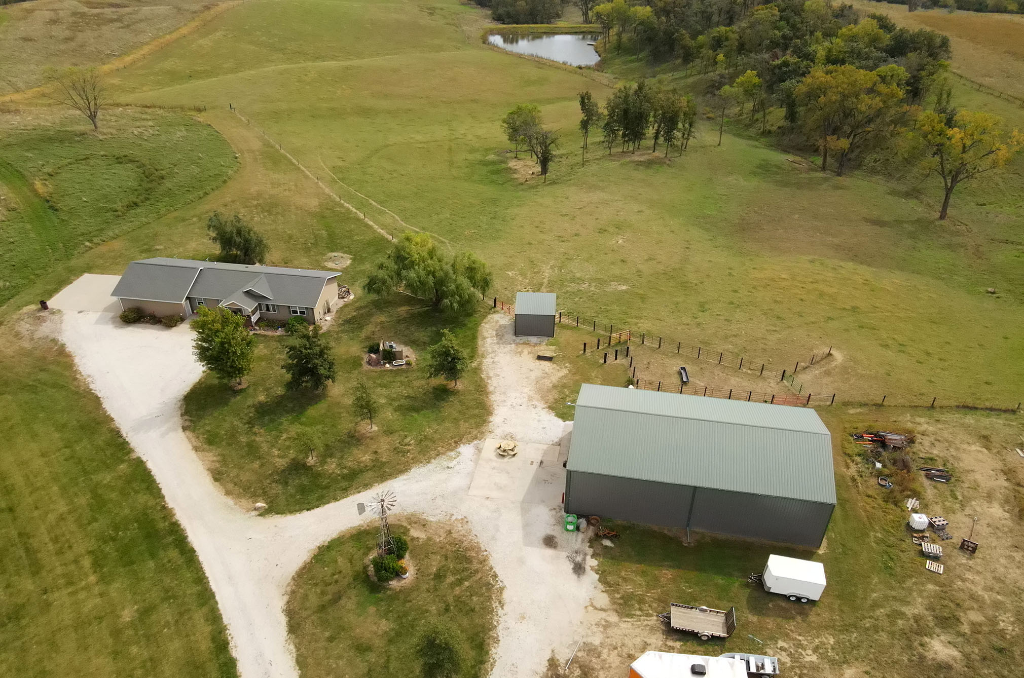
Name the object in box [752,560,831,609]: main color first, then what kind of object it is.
white trailer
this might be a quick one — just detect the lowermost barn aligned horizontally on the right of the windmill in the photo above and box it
[563,383,836,548]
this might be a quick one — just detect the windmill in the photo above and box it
[352,495,397,560]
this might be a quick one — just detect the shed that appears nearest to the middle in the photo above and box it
[515,291,556,337]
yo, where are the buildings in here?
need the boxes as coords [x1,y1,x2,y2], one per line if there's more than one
[515,291,556,337]
[563,383,836,548]
[111,257,343,328]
